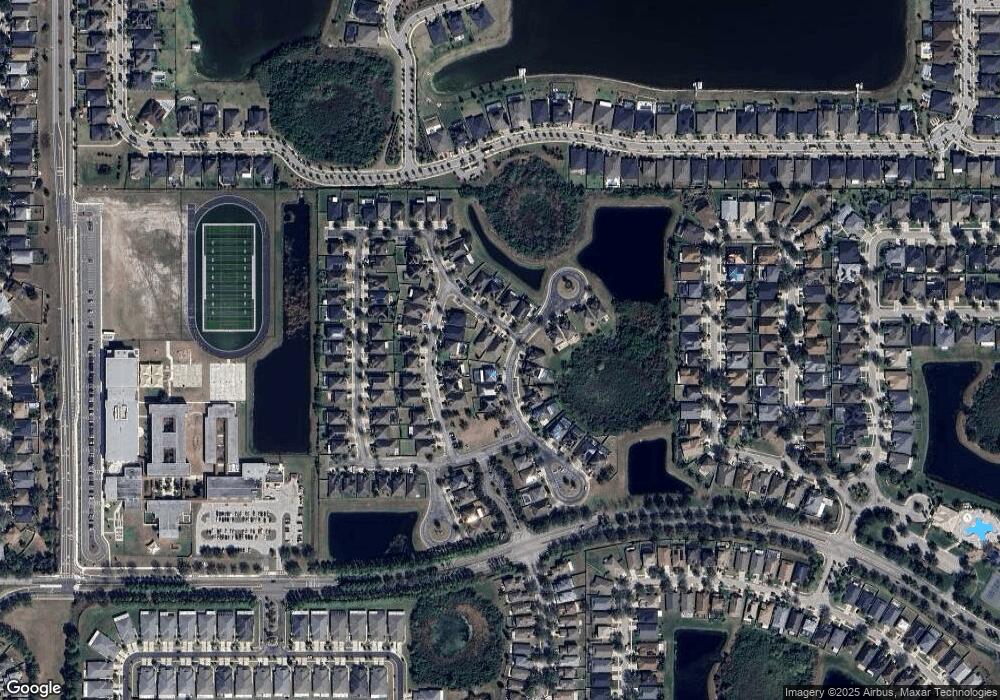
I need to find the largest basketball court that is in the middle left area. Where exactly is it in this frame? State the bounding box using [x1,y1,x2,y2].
[211,363,245,401]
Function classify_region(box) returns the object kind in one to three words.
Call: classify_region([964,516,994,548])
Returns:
swimming pool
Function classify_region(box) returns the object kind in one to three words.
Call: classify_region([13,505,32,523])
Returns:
house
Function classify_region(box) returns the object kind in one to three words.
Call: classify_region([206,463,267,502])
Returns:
building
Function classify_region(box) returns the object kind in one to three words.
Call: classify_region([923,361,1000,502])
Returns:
pond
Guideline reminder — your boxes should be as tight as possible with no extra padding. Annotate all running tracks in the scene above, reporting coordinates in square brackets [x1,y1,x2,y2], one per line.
[185,195,271,358]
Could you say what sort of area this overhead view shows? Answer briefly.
residential area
